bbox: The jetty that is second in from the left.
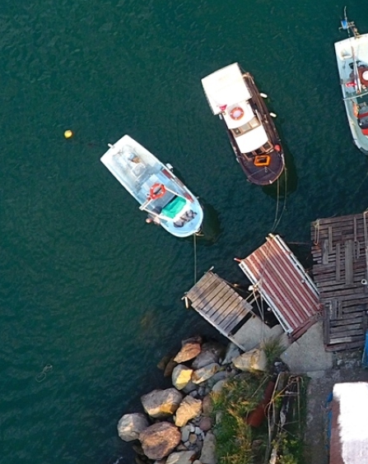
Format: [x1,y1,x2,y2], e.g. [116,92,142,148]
[234,233,327,343]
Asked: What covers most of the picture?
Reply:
water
